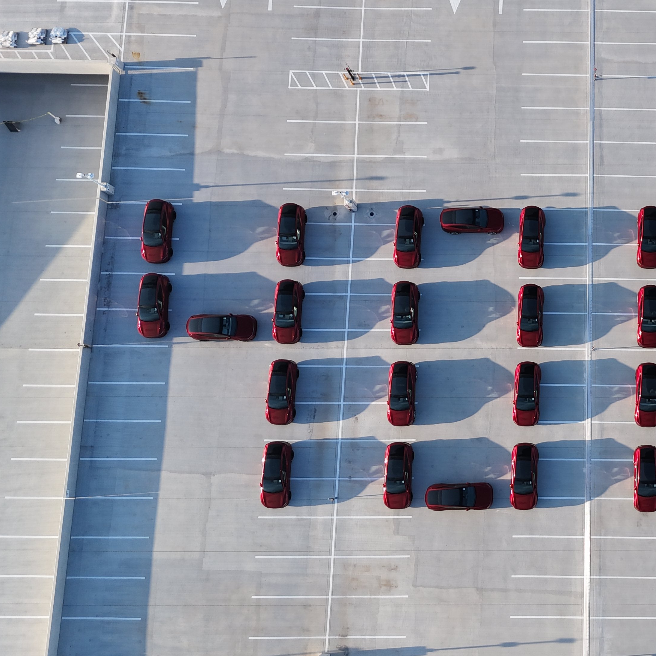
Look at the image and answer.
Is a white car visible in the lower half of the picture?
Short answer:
No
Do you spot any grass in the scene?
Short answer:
No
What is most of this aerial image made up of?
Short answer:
paved ground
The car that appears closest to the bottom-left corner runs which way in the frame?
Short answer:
vertically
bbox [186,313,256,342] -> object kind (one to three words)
car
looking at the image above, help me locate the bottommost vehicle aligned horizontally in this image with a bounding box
[425,483,493,512]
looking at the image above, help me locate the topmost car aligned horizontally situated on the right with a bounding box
[440,205,504,236]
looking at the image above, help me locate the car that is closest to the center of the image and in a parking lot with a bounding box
[270,280,304,343]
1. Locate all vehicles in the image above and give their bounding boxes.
[274,203,308,267]
[440,205,504,236]
[632,446,656,512]
[257,441,294,509]
[138,199,177,263]
[135,274,172,337]
[186,313,256,342]
[263,360,300,425]
[392,205,424,269]
[381,442,414,509]
[636,284,656,348]
[512,361,542,426]
[425,483,493,512]
[509,442,538,510]
[388,281,420,345]
[270,280,304,343]
[517,205,545,269]
[385,361,418,426]
[635,362,656,427]
[636,205,656,269]
[516,283,544,347]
